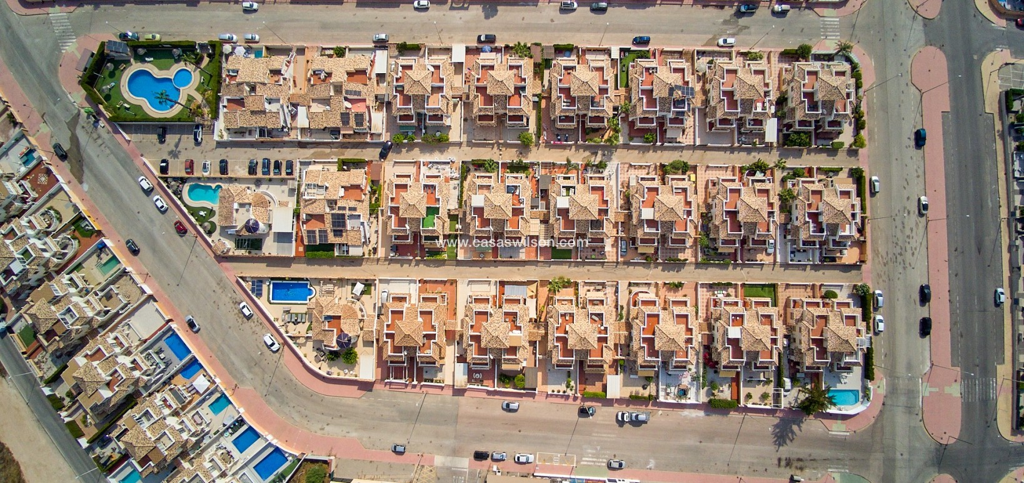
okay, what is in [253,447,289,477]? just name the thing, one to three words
swimming pool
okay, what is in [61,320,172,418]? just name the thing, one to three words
house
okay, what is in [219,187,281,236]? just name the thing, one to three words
house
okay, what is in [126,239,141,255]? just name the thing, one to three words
car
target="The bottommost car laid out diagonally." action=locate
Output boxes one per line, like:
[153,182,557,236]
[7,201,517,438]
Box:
[95,433,113,449]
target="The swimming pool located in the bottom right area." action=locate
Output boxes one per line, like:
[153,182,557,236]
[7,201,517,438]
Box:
[828,389,860,406]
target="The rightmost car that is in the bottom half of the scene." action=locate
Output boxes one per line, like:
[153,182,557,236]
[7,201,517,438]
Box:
[992,289,1006,305]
